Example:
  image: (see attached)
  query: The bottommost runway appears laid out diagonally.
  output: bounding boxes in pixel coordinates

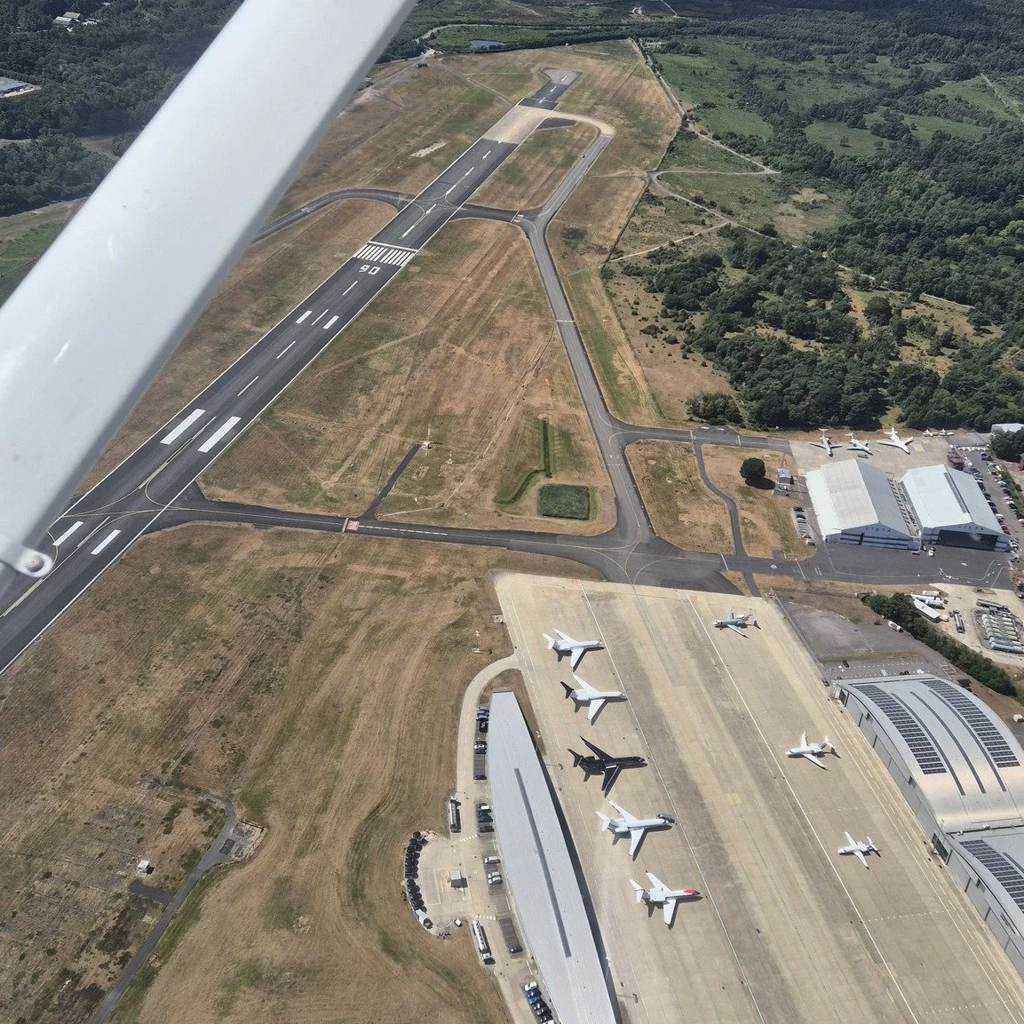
[0,138,525,679]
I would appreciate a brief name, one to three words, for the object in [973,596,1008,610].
vehicle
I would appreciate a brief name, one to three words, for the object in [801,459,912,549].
hangar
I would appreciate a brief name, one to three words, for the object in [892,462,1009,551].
hangar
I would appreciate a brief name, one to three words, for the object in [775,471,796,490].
building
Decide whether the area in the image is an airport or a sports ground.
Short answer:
airport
